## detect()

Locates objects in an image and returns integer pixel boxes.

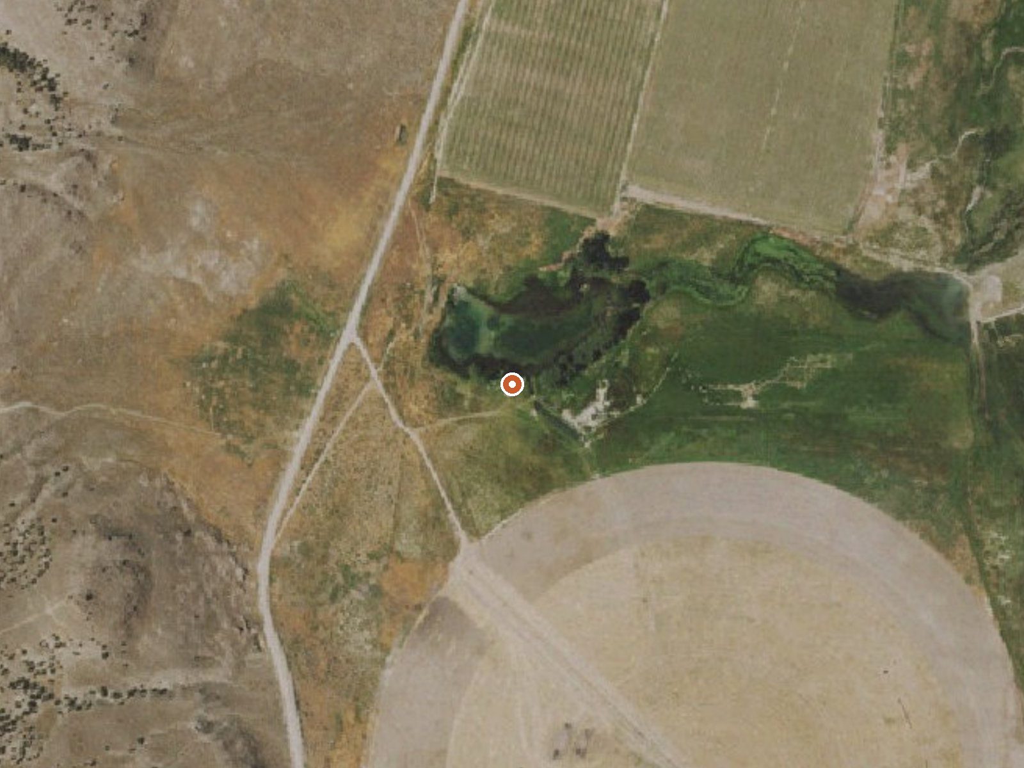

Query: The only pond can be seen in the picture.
[431,275,648,382]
